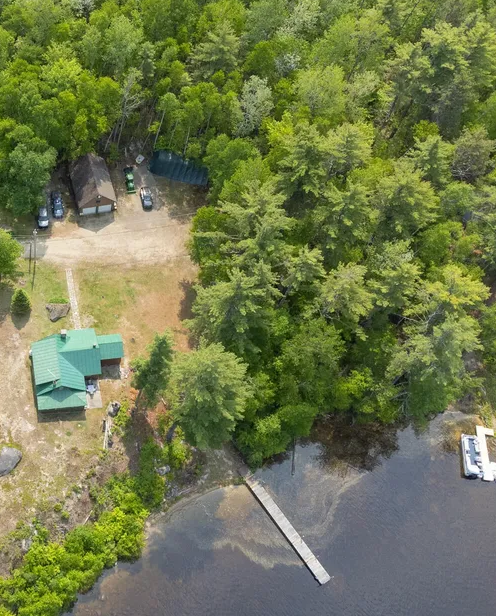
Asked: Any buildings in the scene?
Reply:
Yes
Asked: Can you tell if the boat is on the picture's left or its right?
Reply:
right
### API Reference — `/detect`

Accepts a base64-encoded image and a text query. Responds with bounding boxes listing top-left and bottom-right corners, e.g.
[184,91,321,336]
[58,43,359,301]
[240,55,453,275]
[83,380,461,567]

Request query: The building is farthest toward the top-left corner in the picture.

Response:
[67,155,117,217]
